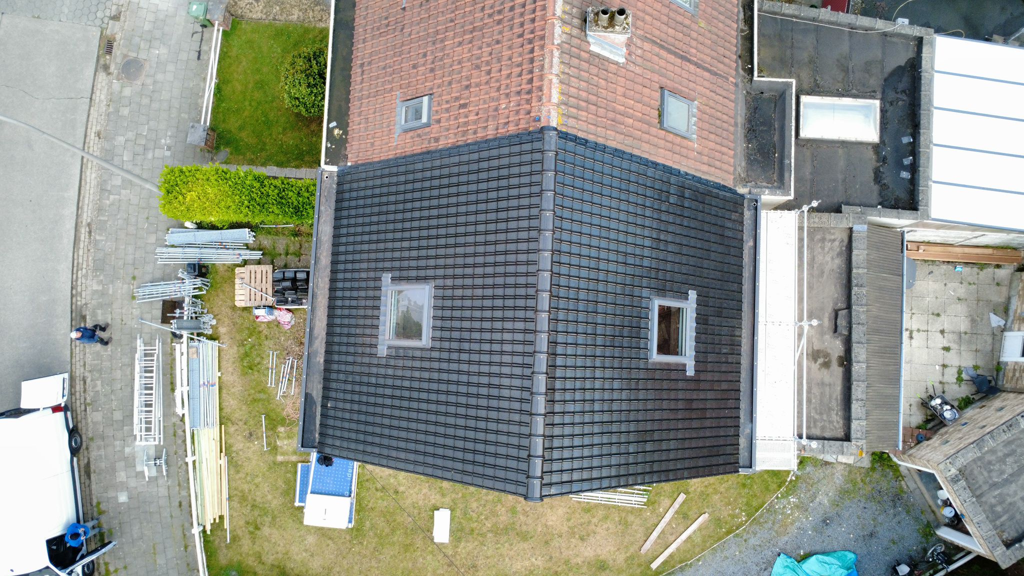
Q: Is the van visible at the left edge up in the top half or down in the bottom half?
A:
bottom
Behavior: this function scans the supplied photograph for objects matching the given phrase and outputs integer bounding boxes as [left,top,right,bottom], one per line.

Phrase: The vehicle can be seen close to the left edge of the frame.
[0,373,114,576]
